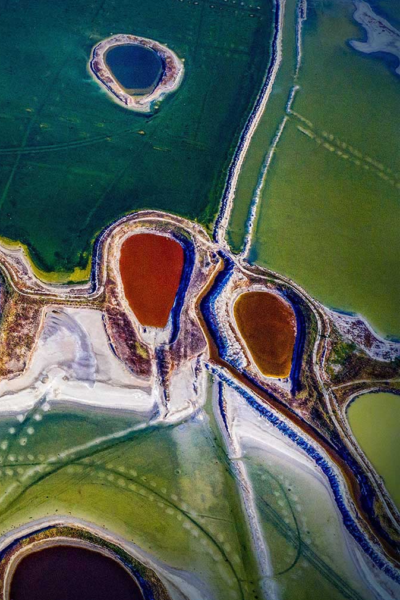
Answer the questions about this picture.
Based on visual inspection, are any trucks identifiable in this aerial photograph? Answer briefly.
No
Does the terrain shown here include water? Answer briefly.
Yes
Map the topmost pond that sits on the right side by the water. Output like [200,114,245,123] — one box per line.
[231,283,311,396]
